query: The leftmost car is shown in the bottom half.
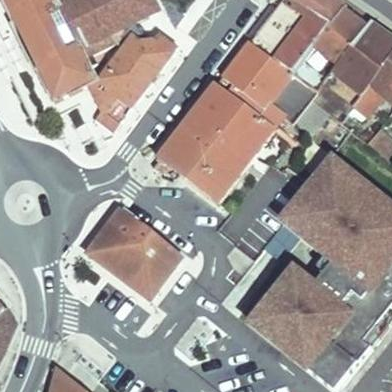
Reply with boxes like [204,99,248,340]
[16,354,28,377]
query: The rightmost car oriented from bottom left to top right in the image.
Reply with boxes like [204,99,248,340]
[270,188,288,208]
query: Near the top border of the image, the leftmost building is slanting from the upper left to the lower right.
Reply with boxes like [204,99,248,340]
[3,0,99,102]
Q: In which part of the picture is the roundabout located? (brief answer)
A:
left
